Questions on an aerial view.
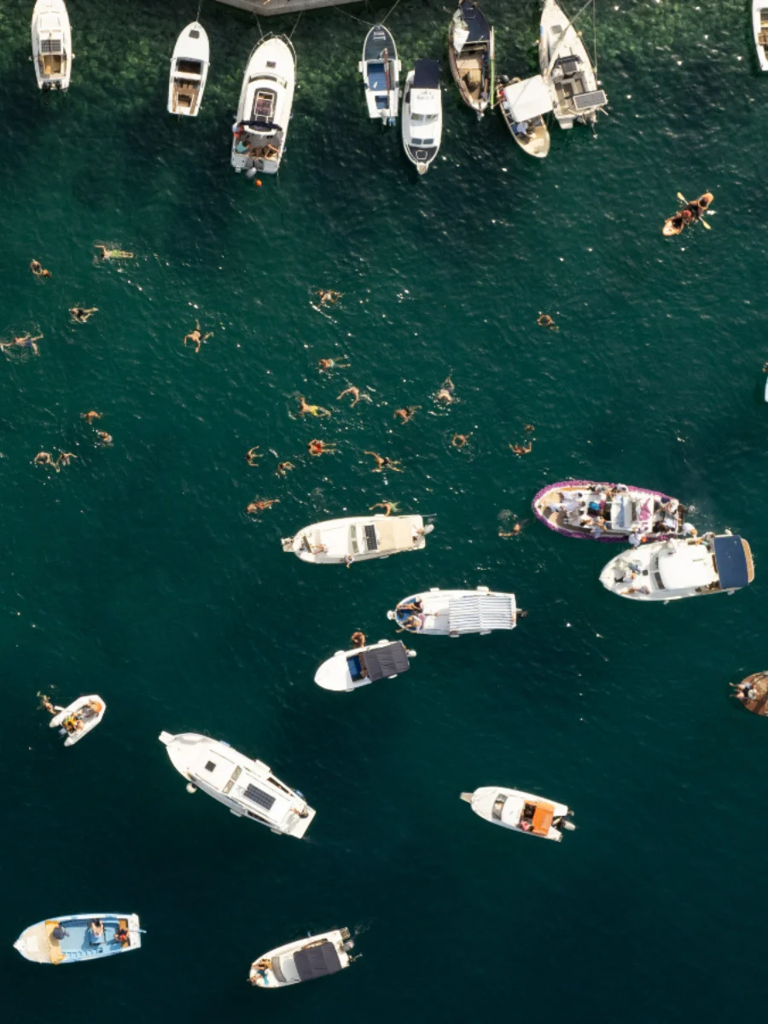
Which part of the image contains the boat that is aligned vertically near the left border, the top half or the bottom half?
top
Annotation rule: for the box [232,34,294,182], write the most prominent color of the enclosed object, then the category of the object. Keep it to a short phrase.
white boat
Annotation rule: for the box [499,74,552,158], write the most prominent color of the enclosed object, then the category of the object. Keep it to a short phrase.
white boat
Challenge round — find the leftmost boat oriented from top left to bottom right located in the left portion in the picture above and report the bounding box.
[159,731,318,839]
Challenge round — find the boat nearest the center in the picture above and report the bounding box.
[282,513,436,561]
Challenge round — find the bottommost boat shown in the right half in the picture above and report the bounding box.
[460,787,575,841]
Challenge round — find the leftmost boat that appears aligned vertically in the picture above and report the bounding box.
[30,0,73,96]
